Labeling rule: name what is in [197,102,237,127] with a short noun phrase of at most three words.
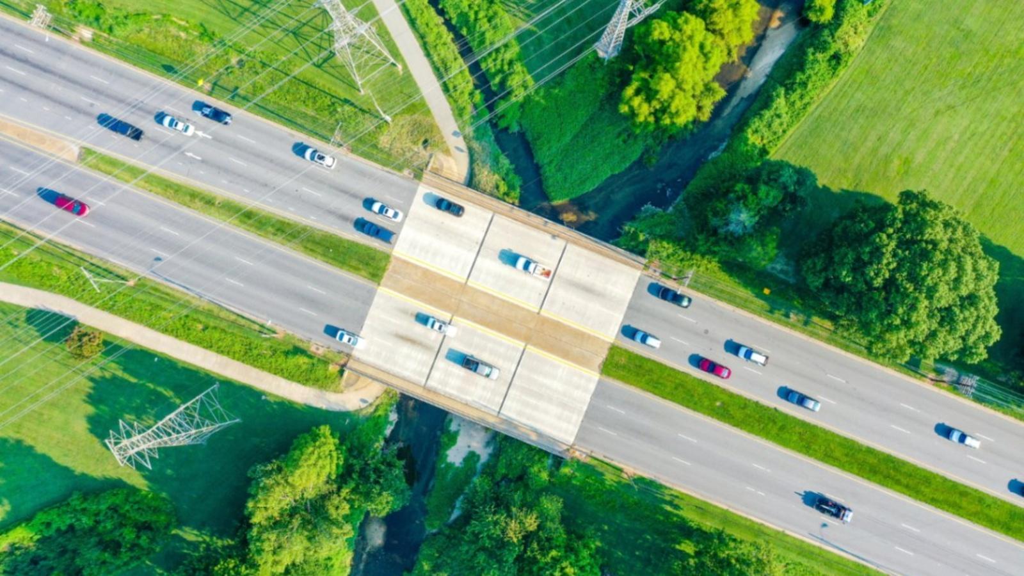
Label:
truck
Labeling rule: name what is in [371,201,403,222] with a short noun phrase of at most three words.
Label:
car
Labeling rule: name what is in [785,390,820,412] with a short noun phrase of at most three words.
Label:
car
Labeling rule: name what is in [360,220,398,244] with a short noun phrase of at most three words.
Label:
truck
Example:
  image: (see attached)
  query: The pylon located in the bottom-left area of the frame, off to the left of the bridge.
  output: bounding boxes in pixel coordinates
[104,381,242,468]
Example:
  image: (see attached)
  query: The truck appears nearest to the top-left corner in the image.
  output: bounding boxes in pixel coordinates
[110,118,150,143]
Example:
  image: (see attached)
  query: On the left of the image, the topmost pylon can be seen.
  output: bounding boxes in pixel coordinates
[314,0,404,97]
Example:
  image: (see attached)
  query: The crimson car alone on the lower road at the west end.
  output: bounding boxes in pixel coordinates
[54,194,89,216]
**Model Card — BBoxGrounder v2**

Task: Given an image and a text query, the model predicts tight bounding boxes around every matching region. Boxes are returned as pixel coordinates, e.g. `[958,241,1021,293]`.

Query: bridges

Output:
[335,164,659,461]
